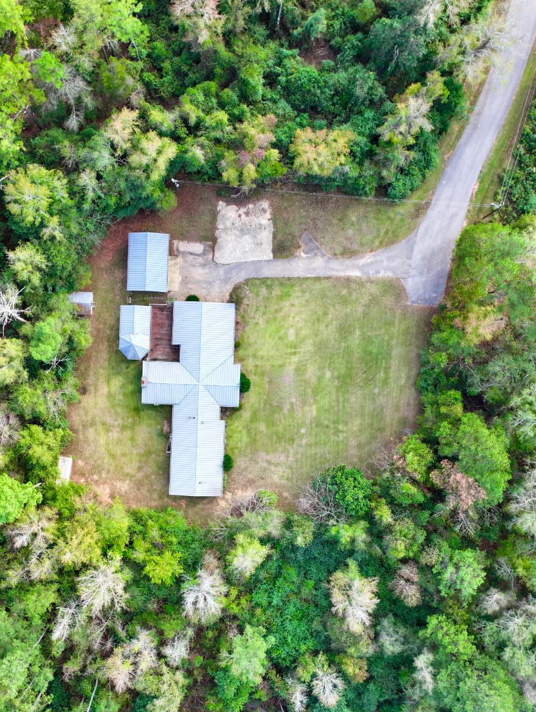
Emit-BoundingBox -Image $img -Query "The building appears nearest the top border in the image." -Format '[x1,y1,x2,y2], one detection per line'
[126,232,169,292]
